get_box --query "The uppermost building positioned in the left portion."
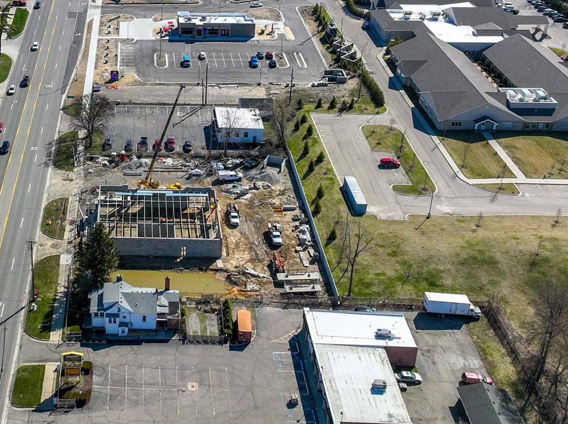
[176,11,257,39]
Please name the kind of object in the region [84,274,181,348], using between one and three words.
house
